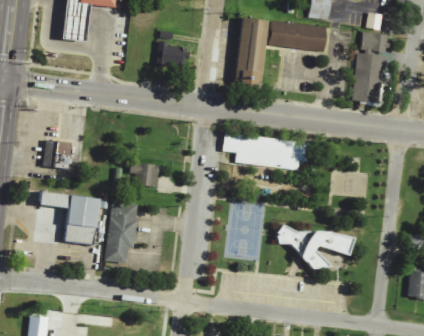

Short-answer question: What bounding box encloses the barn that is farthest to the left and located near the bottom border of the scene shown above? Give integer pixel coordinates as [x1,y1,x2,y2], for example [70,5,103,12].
[28,314,48,336]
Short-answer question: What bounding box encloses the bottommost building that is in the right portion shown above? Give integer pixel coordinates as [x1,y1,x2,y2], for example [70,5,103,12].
[408,272,424,300]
